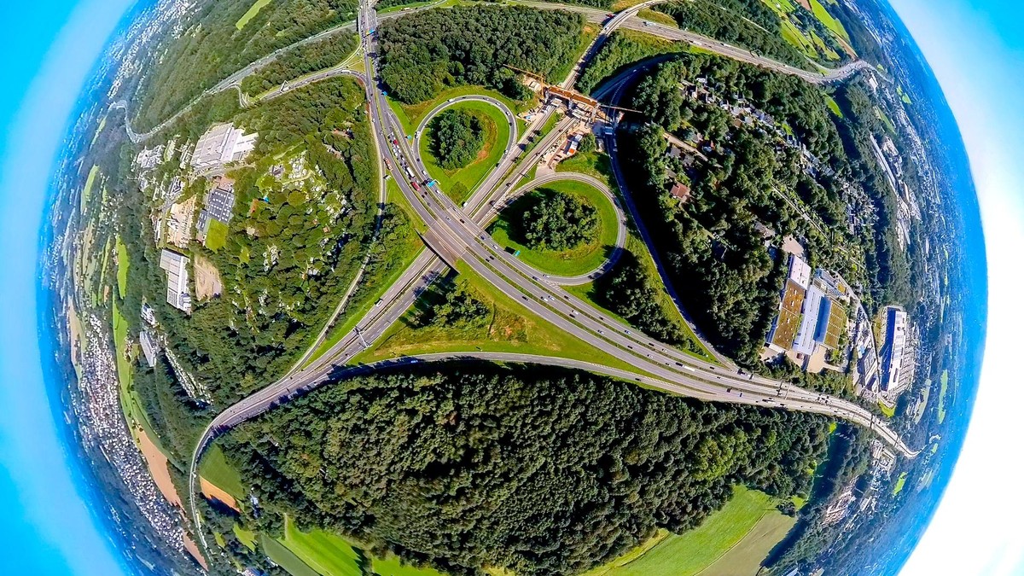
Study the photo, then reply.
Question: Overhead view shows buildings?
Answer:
Yes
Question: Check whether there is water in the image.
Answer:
No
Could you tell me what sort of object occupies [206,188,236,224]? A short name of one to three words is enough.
building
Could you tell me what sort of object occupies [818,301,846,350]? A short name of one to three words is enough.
building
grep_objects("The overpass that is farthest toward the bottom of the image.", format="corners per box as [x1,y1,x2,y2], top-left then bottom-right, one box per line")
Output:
[414,205,490,274]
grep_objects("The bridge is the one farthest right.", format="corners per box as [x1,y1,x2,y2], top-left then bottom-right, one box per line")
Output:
[544,86,597,113]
